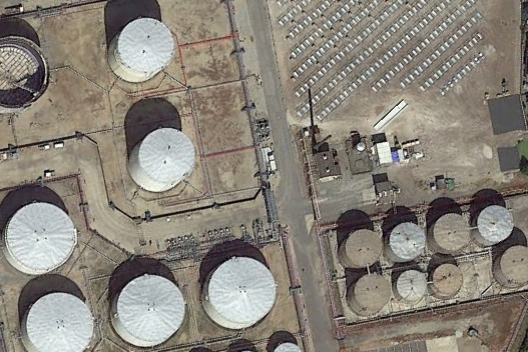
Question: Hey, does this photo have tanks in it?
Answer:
Yes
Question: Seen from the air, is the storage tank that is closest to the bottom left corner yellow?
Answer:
No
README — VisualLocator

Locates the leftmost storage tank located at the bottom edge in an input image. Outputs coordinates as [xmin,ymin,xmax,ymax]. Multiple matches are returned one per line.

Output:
[19,292,95,352]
